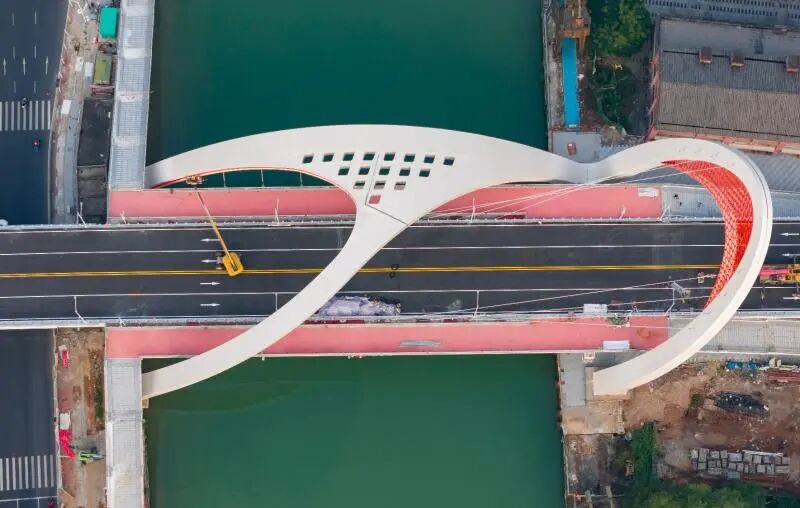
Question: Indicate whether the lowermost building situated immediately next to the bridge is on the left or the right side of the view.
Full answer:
The lowermost building situated immediately next to the bridge appears in the right half of the scene.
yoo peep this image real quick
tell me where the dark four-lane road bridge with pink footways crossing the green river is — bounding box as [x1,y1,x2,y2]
[0,183,800,360]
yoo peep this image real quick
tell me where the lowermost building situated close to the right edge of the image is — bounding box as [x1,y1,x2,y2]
[641,16,800,154]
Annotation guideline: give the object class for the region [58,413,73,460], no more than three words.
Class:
vehicle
